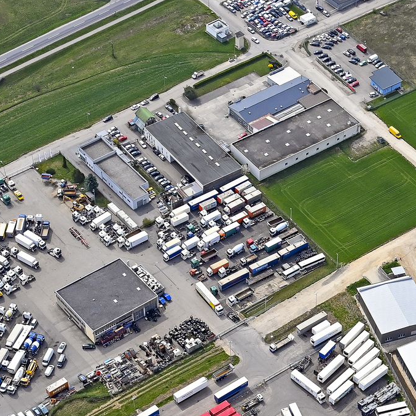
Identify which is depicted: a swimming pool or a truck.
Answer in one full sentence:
I can see a truck in this picture.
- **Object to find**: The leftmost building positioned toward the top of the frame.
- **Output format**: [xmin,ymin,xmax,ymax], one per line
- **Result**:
[79,137,116,173]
